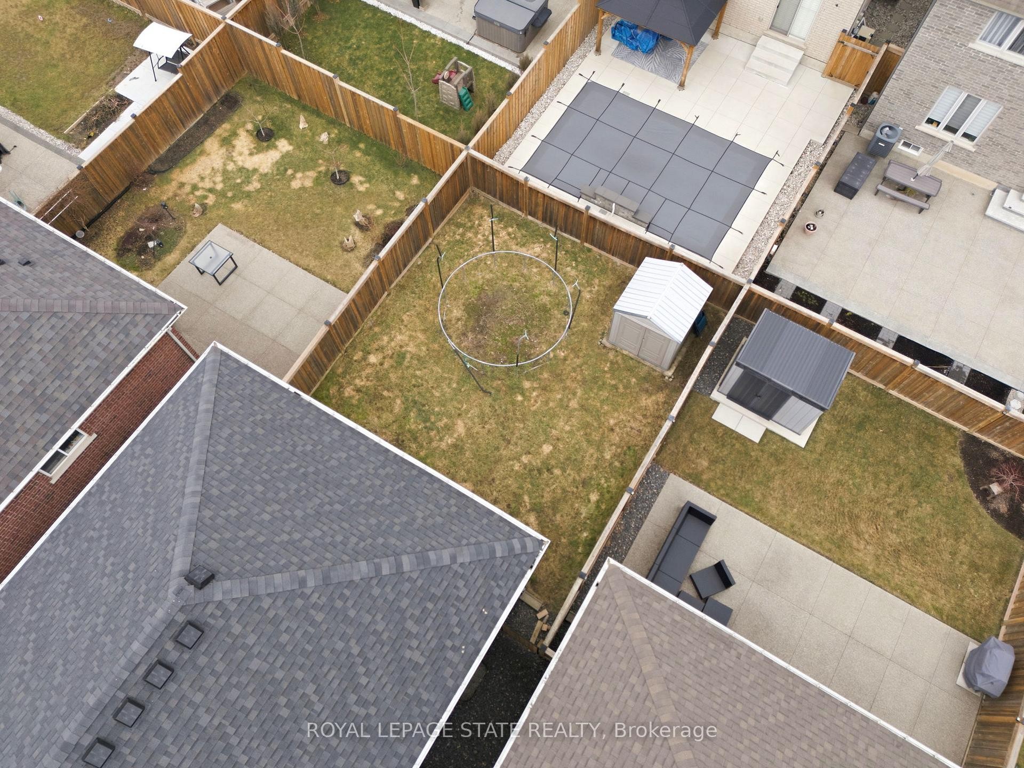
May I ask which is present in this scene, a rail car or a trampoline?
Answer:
trampoline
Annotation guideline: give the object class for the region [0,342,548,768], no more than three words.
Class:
house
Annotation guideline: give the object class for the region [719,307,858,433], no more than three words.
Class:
shed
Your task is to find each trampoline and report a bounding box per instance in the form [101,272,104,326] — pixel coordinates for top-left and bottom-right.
[436,206,581,395]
